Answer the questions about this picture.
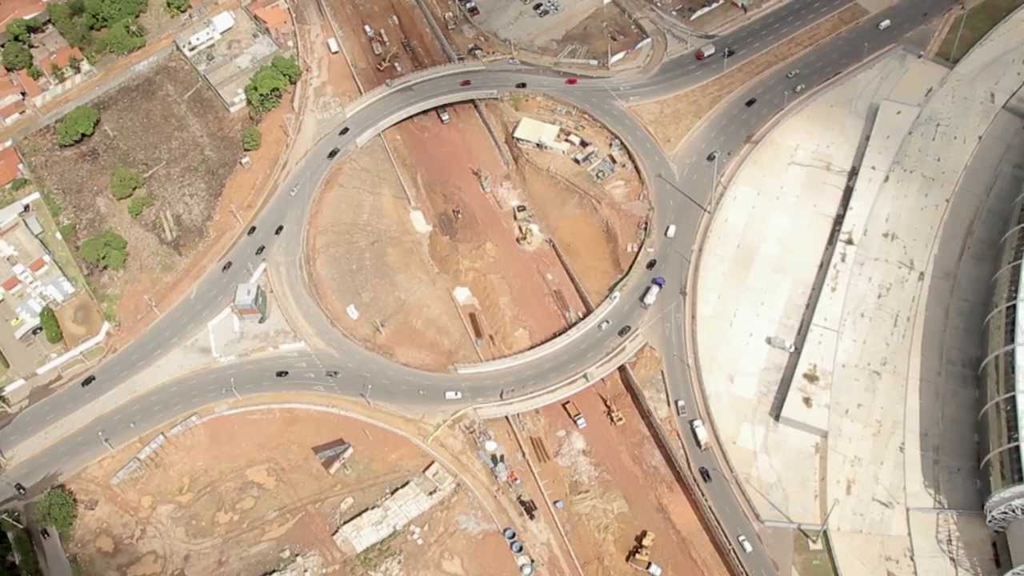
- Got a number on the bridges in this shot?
two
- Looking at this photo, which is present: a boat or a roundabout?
roundabout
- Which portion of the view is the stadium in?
right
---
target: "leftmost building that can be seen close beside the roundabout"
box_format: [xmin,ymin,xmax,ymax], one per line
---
[234,280,269,324]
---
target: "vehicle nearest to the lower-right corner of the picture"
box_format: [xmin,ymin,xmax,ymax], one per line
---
[738,535,751,552]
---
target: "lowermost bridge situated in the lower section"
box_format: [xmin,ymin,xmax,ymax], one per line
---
[454,292,647,418]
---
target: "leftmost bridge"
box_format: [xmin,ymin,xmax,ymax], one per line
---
[341,56,504,150]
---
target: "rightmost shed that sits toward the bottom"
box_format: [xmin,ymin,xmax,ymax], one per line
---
[312,438,356,476]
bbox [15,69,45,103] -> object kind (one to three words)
house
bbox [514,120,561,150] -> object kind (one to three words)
shed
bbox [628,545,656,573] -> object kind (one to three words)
truck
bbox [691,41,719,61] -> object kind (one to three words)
vehicle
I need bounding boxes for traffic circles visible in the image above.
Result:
[266,64,703,414]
